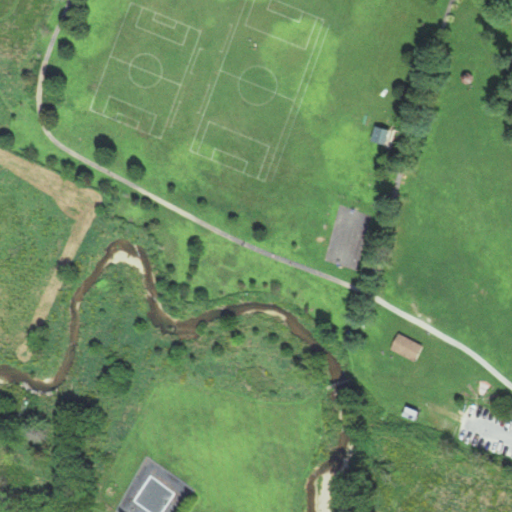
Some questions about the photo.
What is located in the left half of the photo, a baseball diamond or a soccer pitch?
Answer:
soccer pitch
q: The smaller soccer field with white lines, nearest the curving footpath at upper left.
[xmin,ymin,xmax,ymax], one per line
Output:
[90,2,203,139]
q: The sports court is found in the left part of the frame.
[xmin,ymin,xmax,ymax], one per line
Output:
[116,456,196,512]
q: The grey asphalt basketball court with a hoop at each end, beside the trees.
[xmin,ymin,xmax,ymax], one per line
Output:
[326,206,367,270]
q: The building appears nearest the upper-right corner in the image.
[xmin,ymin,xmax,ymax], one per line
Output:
[372,126,398,146]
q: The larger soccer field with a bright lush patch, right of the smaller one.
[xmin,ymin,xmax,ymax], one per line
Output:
[190,0,329,182]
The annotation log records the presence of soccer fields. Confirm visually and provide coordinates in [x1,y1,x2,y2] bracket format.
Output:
[190,0,329,182]
[90,2,203,139]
